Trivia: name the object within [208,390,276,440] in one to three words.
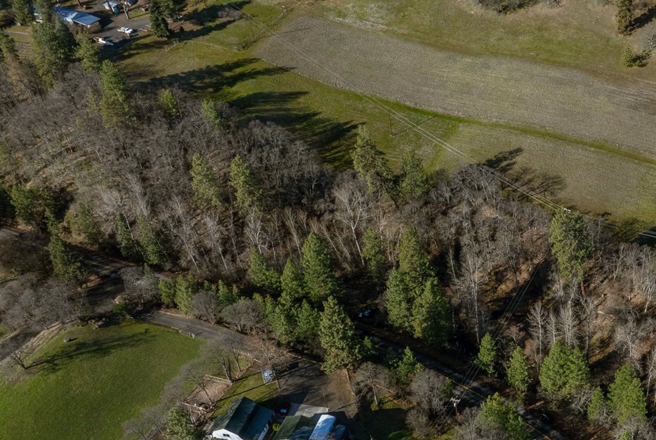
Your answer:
house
